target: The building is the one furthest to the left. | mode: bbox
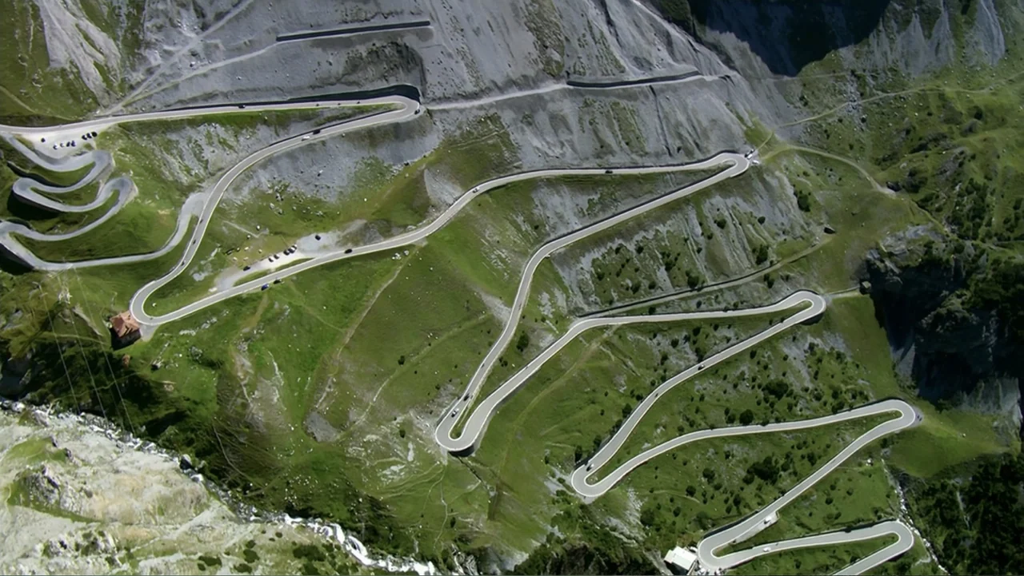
[106,311,140,351]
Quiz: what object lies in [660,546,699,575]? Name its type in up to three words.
building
